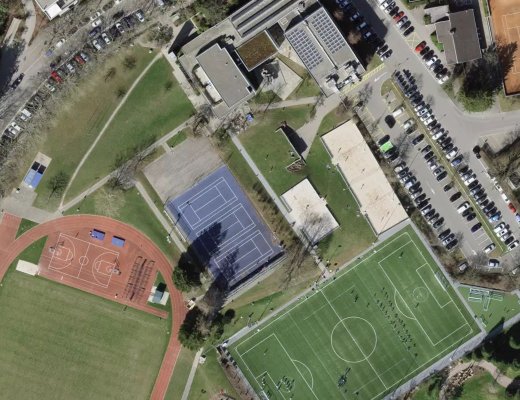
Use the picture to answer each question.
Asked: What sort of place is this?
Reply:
sports ground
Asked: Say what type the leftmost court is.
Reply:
basketball court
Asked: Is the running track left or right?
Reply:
left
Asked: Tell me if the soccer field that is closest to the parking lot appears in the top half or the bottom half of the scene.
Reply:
bottom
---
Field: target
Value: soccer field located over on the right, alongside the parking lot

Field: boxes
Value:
[228,224,478,400]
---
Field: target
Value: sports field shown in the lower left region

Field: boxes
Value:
[0,236,172,400]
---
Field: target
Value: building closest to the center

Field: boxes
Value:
[281,178,340,245]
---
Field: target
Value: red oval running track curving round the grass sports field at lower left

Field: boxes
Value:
[0,211,186,400]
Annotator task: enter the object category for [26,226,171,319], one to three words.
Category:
basketball court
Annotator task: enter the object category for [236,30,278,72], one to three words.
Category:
building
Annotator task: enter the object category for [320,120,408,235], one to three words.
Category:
building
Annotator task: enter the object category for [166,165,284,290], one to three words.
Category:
tennis court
